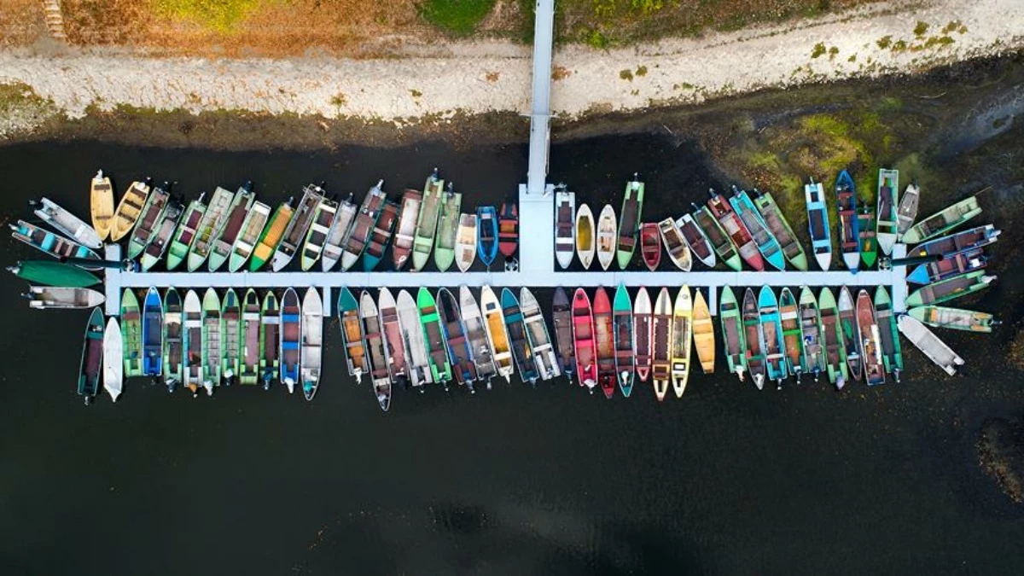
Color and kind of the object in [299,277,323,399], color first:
white boat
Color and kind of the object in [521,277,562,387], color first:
white boat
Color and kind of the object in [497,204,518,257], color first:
red boat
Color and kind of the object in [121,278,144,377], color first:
green boat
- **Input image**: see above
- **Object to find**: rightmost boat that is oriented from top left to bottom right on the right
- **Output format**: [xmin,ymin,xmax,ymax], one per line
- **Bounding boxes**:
[894,308,965,374]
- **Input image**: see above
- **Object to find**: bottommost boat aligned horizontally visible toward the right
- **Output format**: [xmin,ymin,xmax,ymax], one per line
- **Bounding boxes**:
[897,305,1001,332]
